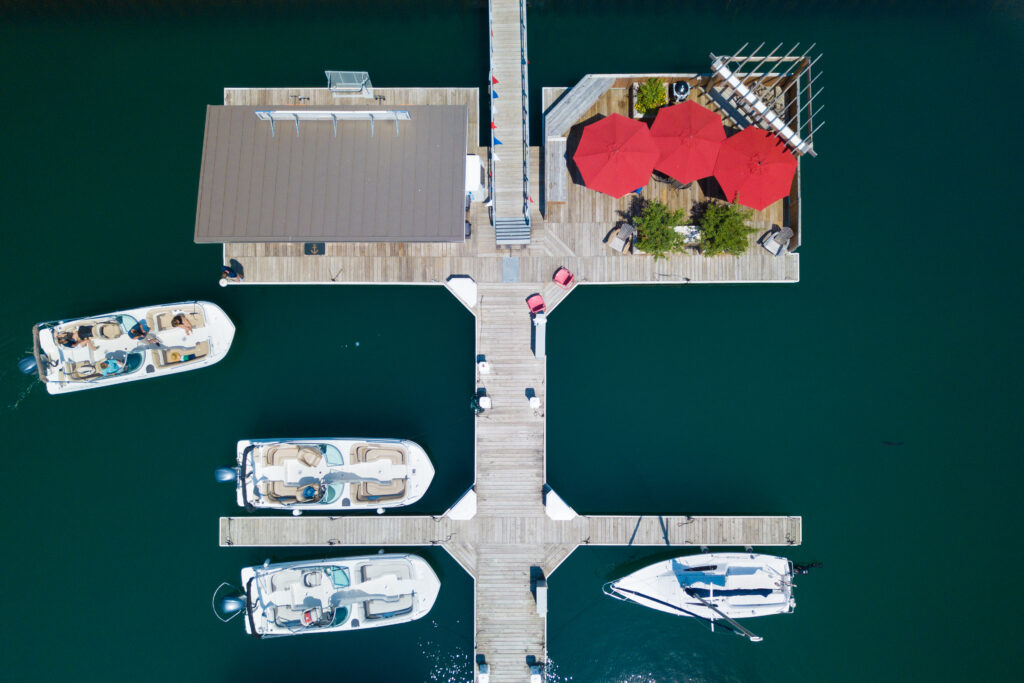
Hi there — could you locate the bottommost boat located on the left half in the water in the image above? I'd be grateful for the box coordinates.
[219,551,440,638]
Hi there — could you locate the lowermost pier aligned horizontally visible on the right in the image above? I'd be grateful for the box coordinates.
[545,485,802,578]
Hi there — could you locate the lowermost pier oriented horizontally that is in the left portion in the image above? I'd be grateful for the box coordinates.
[219,486,476,579]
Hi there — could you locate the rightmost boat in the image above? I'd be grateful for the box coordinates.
[602,552,823,642]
